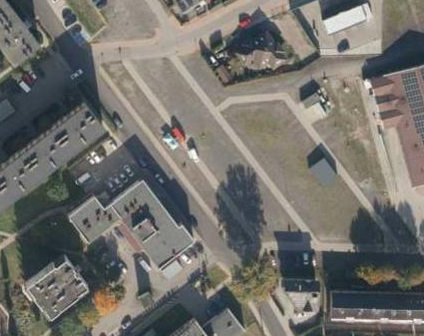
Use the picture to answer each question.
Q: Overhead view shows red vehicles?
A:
Yes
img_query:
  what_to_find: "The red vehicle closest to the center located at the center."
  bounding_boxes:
[170,125,187,144]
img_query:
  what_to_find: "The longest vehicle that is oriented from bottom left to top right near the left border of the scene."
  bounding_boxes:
[20,70,39,91]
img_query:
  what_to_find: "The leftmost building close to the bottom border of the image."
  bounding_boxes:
[24,257,90,322]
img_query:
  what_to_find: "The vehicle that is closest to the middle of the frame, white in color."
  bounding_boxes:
[187,148,200,163]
